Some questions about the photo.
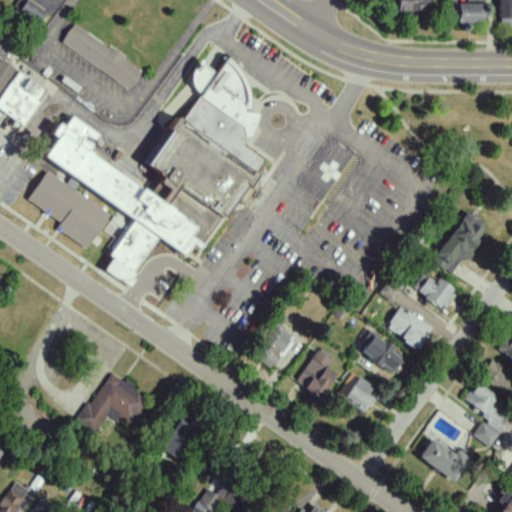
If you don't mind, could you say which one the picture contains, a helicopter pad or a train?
helicopter pad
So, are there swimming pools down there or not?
Yes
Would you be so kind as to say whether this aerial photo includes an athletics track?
No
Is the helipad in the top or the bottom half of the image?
top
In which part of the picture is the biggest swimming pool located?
bottom right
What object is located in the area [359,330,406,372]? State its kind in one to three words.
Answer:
house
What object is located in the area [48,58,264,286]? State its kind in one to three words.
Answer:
building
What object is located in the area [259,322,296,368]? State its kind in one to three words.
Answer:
house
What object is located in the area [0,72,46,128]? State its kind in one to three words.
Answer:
building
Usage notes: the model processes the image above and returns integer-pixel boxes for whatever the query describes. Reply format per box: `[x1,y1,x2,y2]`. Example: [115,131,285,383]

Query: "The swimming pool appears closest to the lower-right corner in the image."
[425,410,469,454]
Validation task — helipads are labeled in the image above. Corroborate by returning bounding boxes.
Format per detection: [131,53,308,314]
[298,135,362,204]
